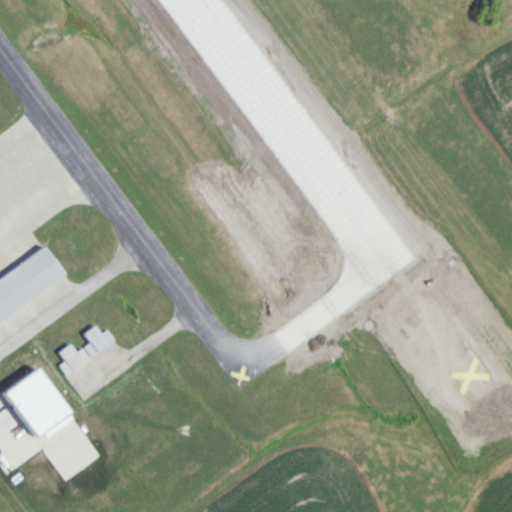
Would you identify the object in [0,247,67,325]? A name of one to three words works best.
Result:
hangar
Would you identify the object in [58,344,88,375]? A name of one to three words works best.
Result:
hangar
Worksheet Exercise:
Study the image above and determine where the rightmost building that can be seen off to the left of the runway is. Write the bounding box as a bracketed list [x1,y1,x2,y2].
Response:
[84,326,114,357]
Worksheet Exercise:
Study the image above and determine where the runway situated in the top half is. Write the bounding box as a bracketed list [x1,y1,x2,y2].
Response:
[157,0,416,352]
